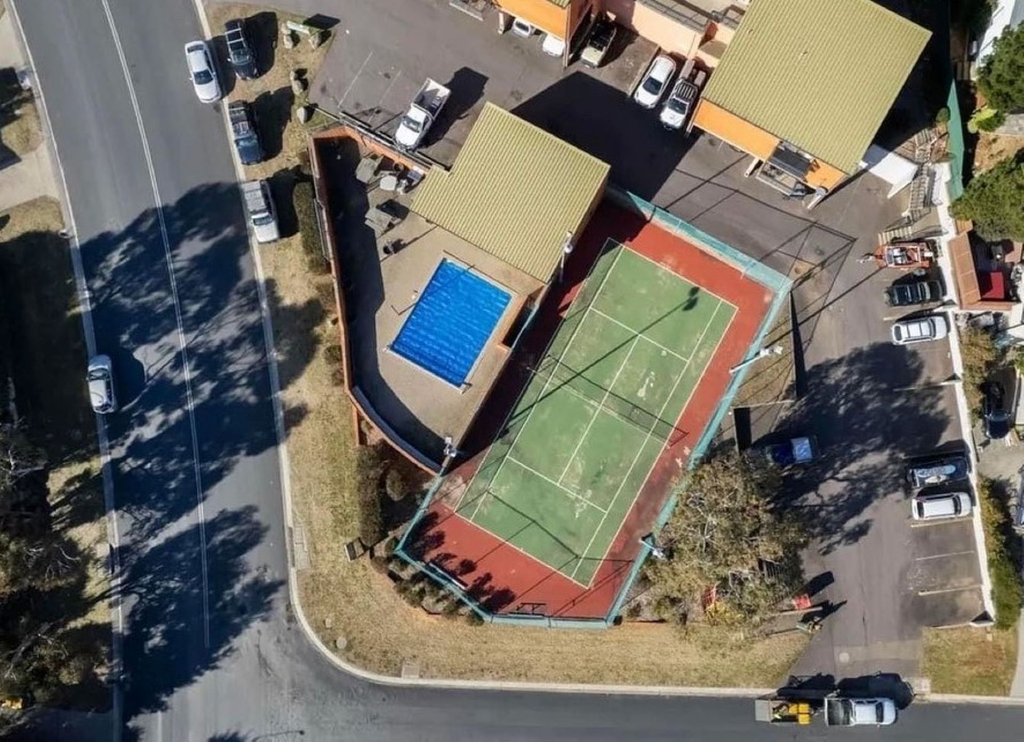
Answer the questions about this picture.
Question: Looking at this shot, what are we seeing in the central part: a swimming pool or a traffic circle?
swimming pool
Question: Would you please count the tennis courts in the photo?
1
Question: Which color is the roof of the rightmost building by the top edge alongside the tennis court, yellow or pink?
yellow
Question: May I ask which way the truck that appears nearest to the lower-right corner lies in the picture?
from left to right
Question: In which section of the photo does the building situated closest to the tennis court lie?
top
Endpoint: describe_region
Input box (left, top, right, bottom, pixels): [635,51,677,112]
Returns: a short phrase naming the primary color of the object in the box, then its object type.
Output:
white car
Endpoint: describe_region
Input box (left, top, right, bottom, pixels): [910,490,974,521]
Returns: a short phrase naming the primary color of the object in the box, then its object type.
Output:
white car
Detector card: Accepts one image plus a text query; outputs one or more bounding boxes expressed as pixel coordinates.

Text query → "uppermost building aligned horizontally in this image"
[484,0,594,46]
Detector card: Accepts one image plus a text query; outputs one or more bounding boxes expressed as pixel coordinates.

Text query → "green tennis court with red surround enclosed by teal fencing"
[404,200,777,619]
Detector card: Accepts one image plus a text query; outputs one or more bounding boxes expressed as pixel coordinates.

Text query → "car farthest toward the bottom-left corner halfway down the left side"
[84,354,122,415]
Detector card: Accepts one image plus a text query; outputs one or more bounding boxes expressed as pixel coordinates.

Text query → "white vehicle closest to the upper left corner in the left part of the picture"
[184,38,225,106]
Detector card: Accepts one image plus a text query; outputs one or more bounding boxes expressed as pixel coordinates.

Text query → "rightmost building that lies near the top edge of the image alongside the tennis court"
[690,0,932,204]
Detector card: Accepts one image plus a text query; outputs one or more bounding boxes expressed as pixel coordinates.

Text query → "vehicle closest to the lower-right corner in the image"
[825,697,898,732]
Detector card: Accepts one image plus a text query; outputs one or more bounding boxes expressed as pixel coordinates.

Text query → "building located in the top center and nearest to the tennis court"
[410,103,612,288]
